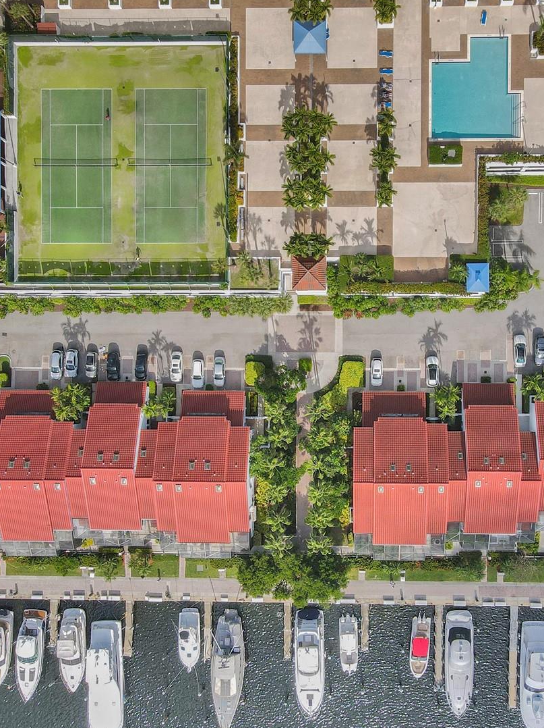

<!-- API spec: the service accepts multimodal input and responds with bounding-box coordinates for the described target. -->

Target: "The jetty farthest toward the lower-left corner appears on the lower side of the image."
[45,601,63,650]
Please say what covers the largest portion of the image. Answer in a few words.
buildings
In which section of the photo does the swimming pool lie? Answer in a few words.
top right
